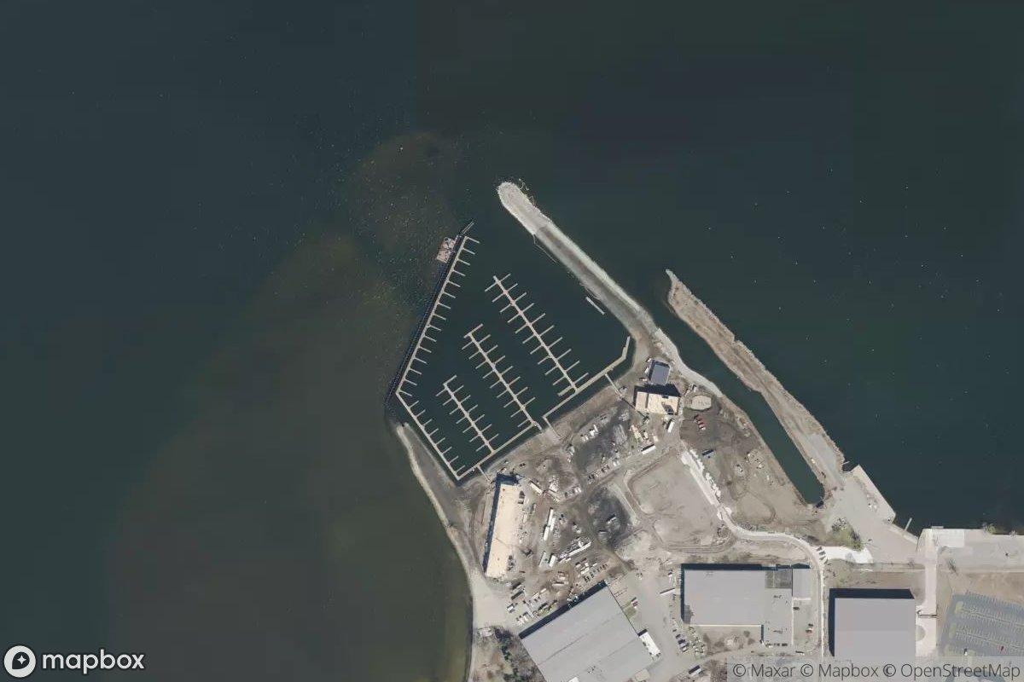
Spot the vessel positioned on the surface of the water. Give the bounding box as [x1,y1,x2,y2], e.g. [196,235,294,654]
[437,237,456,263]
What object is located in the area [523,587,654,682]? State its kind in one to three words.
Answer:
building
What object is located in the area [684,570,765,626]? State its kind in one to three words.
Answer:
building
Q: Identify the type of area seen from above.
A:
port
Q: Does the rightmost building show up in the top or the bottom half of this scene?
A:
bottom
